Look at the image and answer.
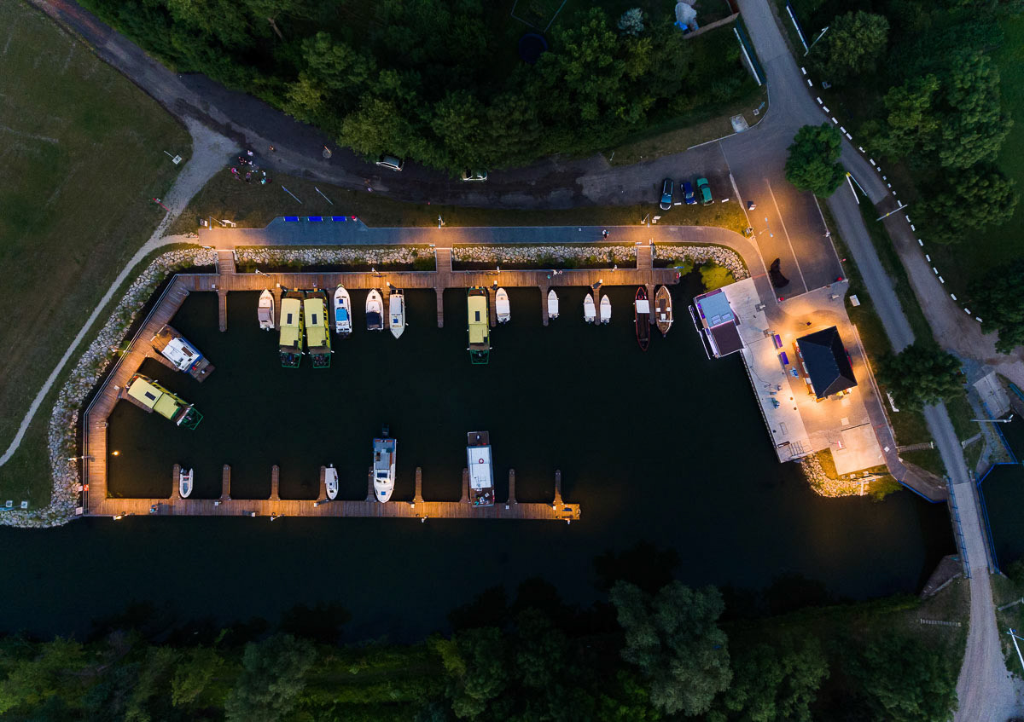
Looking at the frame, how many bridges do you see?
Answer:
1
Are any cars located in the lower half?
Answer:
No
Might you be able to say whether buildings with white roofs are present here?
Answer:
No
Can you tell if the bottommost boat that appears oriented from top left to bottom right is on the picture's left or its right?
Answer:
left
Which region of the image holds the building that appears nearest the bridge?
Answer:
right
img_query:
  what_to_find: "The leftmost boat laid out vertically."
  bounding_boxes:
[180,469,194,498]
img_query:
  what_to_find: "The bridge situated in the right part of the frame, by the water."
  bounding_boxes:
[942,479,1001,578]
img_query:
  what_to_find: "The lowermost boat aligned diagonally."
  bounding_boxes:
[123,372,205,431]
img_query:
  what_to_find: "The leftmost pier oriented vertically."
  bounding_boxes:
[168,464,184,499]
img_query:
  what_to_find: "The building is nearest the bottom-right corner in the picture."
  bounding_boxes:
[785,325,858,399]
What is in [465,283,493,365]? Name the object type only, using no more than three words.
boat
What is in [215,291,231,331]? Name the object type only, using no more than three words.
pier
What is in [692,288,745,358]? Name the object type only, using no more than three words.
building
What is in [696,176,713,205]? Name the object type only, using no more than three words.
car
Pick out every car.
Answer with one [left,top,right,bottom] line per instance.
[377,154,405,171]
[681,179,698,205]
[462,169,488,181]
[696,176,713,205]
[658,178,674,210]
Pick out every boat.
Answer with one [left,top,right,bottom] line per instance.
[600,292,612,325]
[467,430,495,508]
[256,285,275,333]
[372,432,397,505]
[324,466,338,502]
[584,292,597,324]
[148,324,215,382]
[389,289,407,339]
[333,283,351,339]
[277,285,306,370]
[123,372,205,431]
[547,286,560,321]
[656,283,673,338]
[633,284,651,351]
[365,286,382,333]
[302,285,335,369]
[180,469,194,498]
[465,283,493,365]
[496,284,513,324]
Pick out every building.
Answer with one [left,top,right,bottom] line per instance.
[692,288,745,358]
[785,325,858,399]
